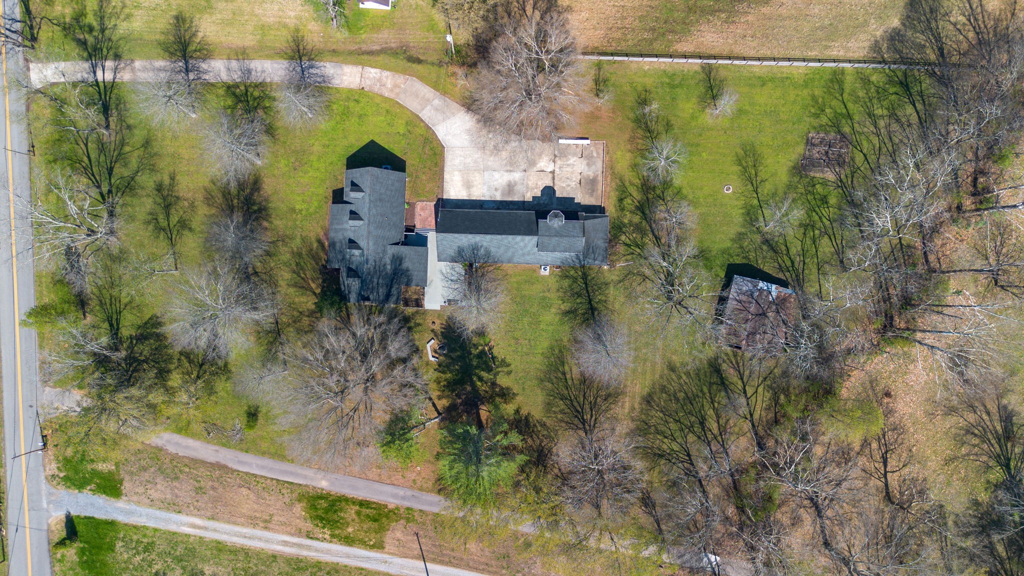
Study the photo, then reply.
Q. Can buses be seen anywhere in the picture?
No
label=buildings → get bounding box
[327,167,429,304]
[436,208,610,266]
[353,0,392,9]
[716,275,795,348]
